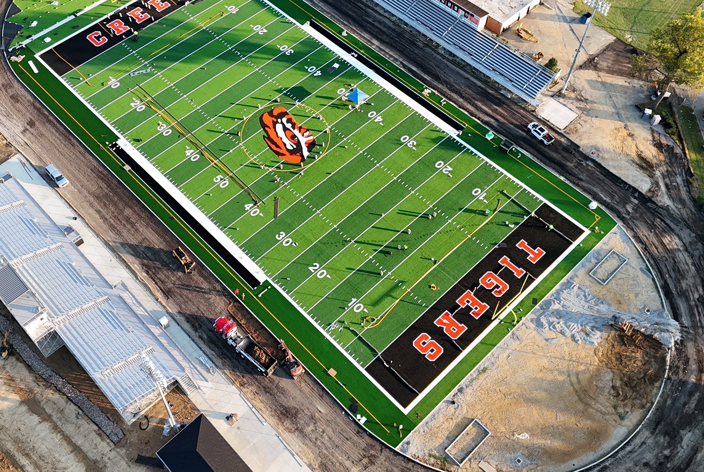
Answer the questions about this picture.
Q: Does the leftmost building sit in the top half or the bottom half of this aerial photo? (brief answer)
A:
bottom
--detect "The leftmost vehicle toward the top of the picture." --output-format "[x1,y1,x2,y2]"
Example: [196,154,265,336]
[45,165,67,188]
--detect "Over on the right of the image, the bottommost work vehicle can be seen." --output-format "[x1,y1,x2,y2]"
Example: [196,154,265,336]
[610,312,636,335]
